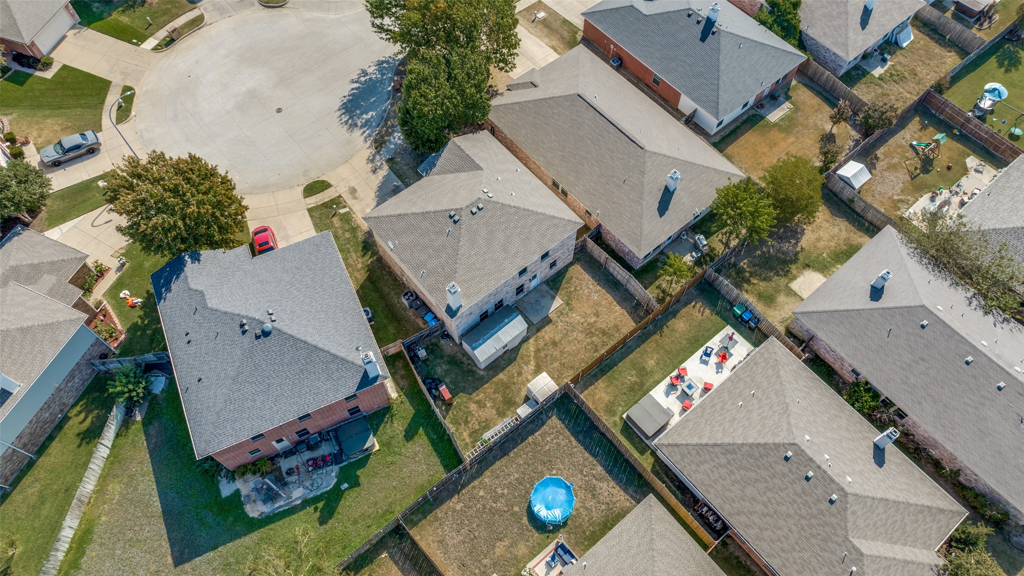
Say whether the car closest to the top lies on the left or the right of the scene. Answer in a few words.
left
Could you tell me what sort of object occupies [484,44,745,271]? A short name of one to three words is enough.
house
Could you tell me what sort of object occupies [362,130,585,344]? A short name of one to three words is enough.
house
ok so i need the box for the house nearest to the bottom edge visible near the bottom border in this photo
[559,493,725,576]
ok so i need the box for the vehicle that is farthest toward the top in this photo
[37,128,101,167]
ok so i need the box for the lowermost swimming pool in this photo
[529,475,576,525]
